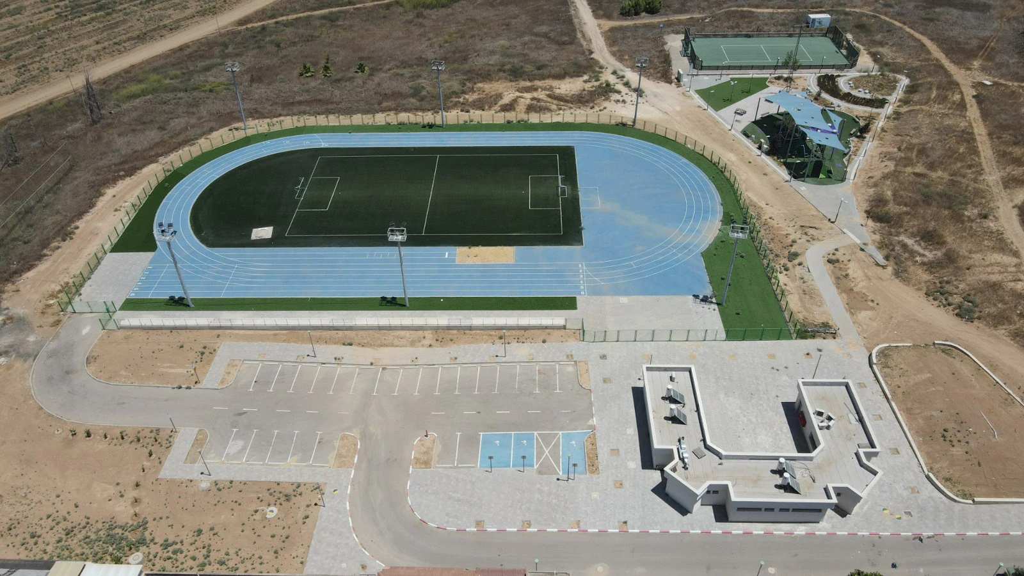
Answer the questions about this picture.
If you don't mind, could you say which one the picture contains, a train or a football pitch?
football pitch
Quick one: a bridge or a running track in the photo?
running track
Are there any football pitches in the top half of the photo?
Yes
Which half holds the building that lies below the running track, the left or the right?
right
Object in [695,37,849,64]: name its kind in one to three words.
sports court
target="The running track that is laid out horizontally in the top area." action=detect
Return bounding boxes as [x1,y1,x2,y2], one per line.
[128,131,721,298]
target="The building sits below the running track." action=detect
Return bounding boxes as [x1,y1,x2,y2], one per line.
[642,364,883,520]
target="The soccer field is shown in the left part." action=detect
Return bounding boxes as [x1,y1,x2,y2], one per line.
[188,146,583,247]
